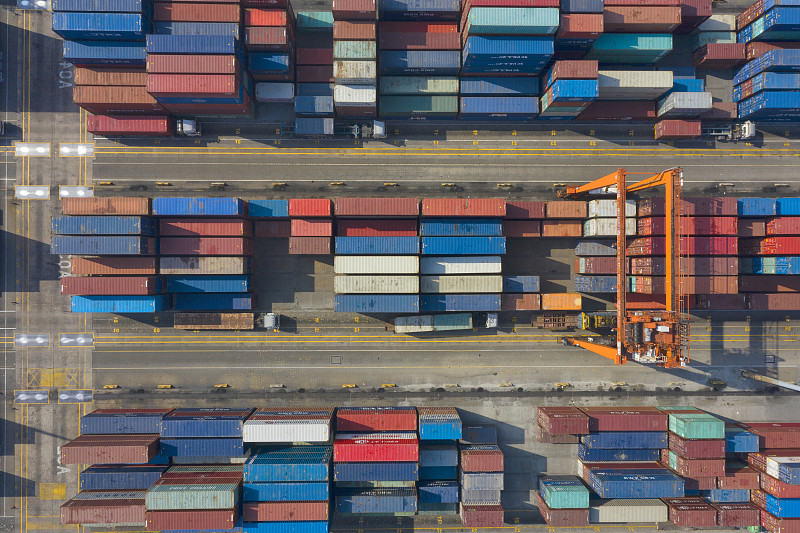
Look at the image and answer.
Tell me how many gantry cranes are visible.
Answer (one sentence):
The picture shows 1 gantry crane.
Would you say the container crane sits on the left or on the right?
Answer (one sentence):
The container crane appears in the right half of the scene.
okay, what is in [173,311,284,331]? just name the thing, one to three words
vehicle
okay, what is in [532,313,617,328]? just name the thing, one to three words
vehicle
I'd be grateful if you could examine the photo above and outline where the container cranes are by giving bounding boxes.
[560,166,692,368]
